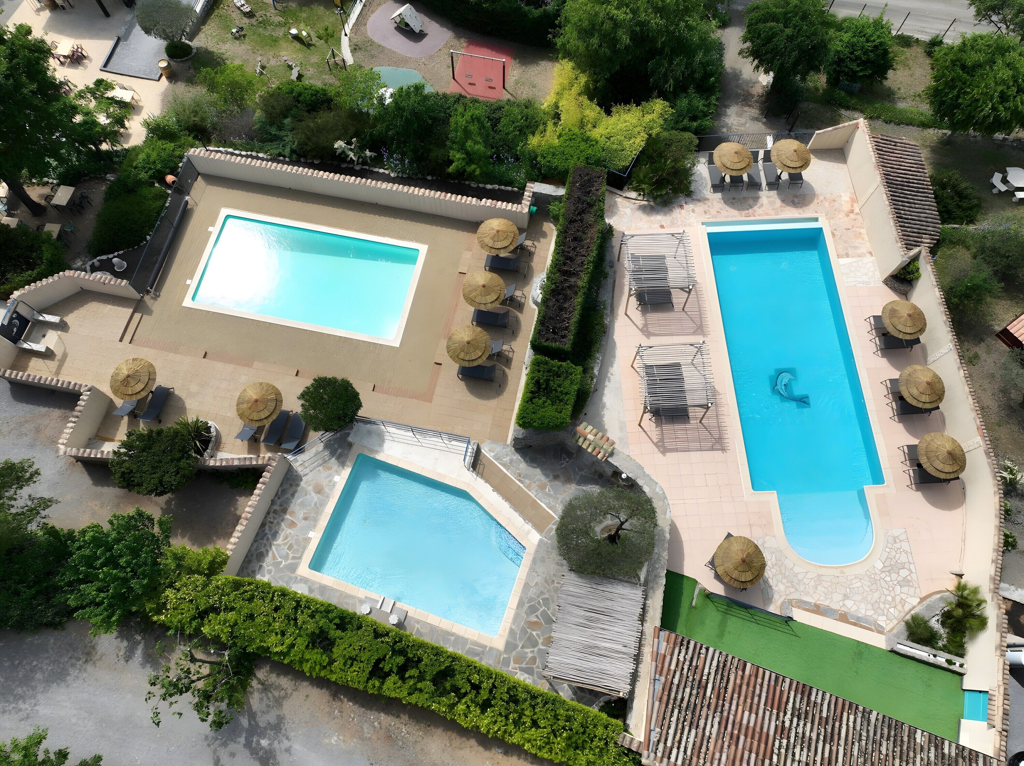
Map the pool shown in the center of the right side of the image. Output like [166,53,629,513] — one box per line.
[699,213,896,574]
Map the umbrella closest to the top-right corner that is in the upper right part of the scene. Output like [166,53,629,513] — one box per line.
[770,144,810,191]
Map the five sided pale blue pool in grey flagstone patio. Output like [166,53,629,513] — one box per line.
[295,443,540,651]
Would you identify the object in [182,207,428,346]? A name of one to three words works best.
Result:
swimming pool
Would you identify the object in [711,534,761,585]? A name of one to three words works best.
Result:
umbrella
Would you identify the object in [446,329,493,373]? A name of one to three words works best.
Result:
umbrella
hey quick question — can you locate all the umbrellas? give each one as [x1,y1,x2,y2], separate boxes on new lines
[770,144,810,191]
[872,302,923,347]
[235,384,283,429]
[114,361,161,403]
[888,369,940,411]
[463,274,508,313]
[712,145,751,193]
[711,534,761,585]
[446,329,493,373]
[475,220,518,262]
[905,437,964,482]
